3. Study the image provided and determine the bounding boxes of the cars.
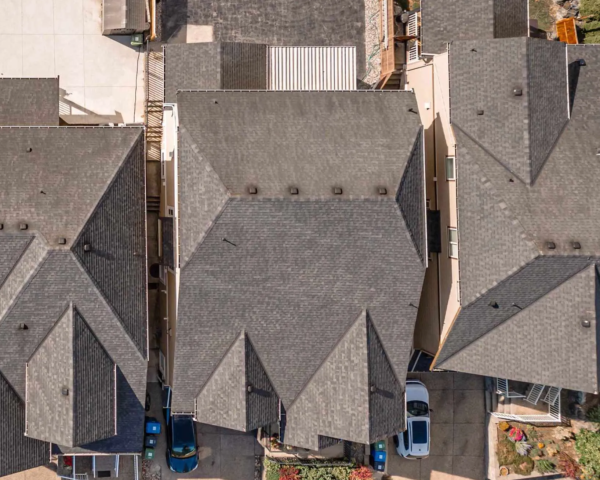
[163,384,203,471]
[392,379,435,461]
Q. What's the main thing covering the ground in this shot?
buildings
